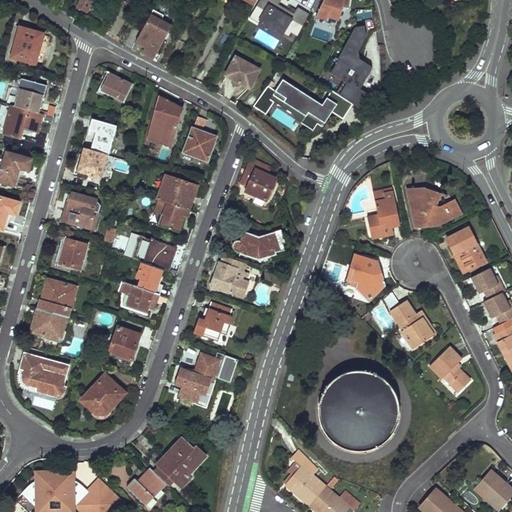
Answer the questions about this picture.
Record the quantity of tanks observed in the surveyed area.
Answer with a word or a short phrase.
1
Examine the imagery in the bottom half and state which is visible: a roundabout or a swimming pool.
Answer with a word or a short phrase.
swimming pool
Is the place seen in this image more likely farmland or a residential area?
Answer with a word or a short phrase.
residential area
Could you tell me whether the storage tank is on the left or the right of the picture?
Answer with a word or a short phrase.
right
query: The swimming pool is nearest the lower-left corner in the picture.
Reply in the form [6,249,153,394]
[61,337,84,358]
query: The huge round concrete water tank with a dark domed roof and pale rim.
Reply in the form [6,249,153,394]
[319,372,401,454]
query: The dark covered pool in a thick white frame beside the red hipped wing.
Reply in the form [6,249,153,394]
[218,356,238,382]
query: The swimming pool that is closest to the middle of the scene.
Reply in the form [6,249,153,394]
[256,282,270,306]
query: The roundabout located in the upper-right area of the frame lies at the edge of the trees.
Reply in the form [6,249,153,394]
[428,78,504,173]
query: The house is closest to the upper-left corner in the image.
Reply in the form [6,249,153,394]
[10,24,44,66]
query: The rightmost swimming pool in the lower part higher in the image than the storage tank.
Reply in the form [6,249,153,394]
[372,305,394,331]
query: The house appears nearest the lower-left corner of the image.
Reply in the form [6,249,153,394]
[18,471,88,512]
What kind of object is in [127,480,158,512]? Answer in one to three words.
building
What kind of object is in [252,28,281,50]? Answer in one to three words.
swimming pool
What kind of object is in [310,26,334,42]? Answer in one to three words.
swimming pool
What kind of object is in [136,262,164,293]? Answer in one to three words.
house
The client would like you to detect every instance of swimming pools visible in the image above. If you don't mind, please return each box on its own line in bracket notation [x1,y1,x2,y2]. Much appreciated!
[310,26,334,42]
[352,186,368,214]
[157,145,172,160]
[355,11,374,21]
[61,337,84,358]
[256,282,270,306]
[218,356,238,382]
[372,305,394,331]
[252,28,281,50]
[97,312,114,328]
[113,160,127,173]
[270,106,296,128]
[141,196,151,206]
[331,264,342,282]
[0,80,6,100]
